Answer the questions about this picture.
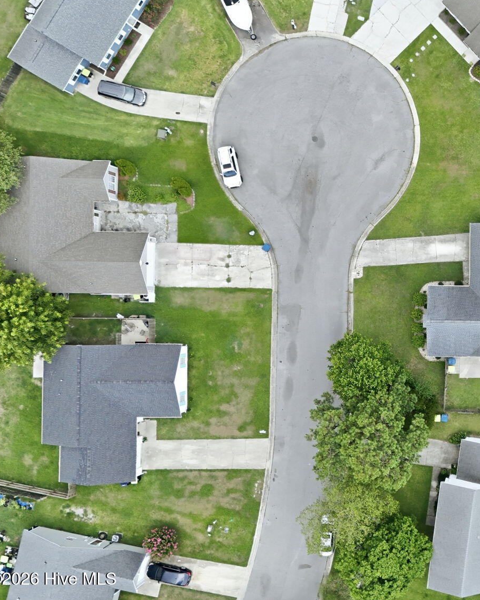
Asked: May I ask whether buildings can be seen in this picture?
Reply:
Yes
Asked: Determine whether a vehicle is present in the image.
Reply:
Yes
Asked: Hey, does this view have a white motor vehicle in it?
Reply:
Yes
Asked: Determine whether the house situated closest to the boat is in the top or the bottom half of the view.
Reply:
top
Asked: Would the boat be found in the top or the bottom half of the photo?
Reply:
top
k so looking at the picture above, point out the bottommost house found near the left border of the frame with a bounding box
[8,526,151,600]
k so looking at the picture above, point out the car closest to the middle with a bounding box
[218,144,243,189]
